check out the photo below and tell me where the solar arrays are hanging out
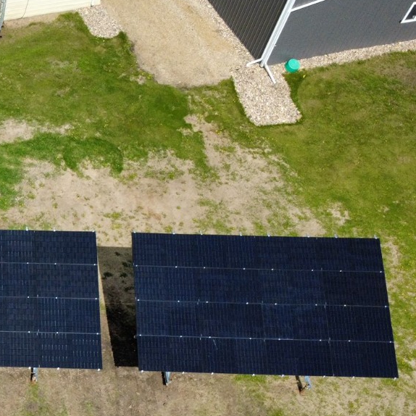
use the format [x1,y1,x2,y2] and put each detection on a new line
[131,229,397,390]
[0,226,101,382]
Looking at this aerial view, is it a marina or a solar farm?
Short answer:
solar farm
